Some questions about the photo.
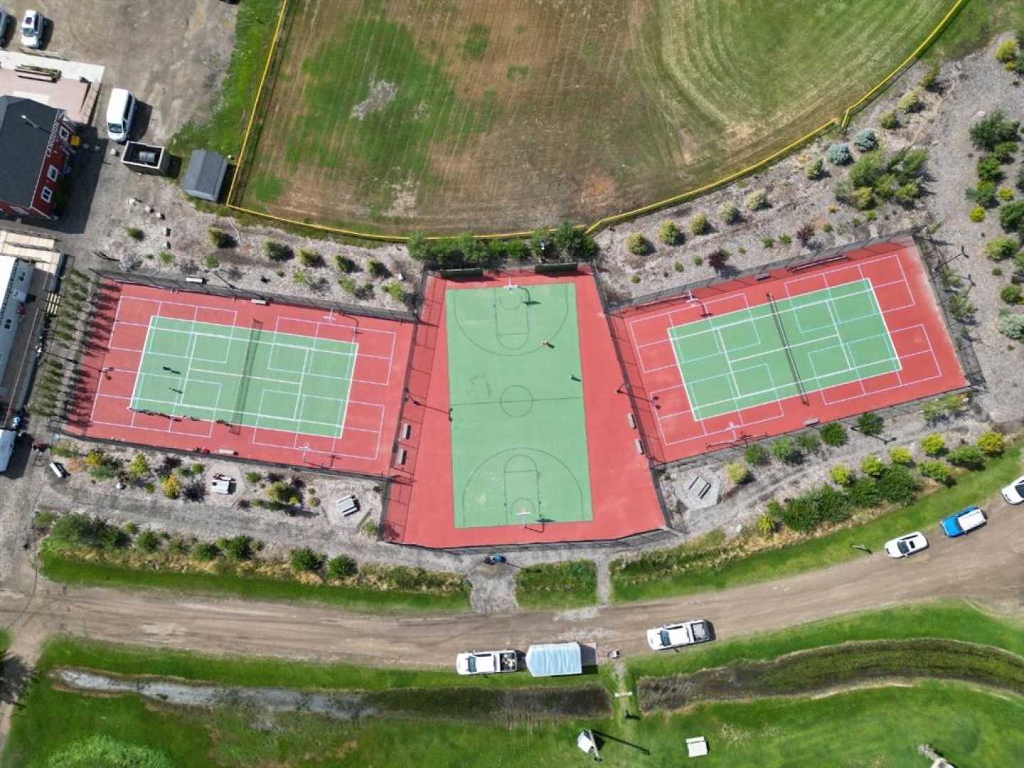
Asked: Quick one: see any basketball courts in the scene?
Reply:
Yes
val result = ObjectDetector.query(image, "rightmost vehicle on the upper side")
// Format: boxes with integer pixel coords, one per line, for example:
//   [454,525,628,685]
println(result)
[105,83,135,138]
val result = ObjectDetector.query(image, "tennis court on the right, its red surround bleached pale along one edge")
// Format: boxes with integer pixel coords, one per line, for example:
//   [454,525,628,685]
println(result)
[606,236,972,465]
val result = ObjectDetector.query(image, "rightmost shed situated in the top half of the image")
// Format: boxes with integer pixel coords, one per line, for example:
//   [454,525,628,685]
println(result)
[182,150,230,201]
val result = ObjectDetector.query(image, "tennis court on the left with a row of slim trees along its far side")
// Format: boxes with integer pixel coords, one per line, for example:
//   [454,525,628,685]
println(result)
[63,278,418,477]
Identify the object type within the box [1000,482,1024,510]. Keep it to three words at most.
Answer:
car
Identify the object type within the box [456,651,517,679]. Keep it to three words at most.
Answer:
truck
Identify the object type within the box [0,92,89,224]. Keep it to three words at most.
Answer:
building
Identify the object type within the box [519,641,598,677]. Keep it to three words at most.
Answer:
trailer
